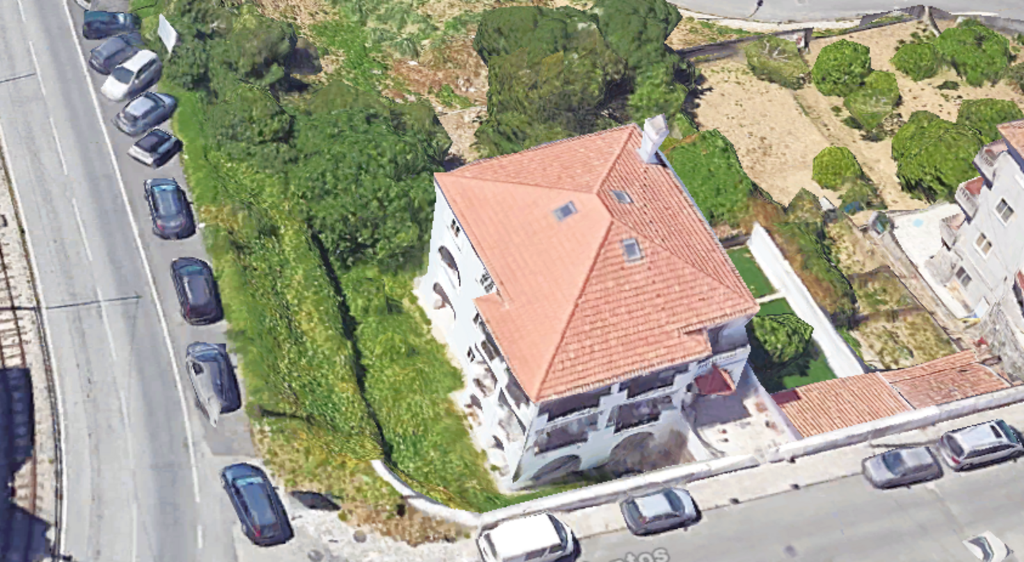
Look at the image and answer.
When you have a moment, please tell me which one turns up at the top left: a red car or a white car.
white car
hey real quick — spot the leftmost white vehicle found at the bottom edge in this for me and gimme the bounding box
[484,516,573,562]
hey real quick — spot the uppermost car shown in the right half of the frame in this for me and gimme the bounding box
[939,422,1023,469]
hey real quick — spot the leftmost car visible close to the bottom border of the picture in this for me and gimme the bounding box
[221,463,291,547]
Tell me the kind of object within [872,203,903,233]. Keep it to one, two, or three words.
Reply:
greenhouse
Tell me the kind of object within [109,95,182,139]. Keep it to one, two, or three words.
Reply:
car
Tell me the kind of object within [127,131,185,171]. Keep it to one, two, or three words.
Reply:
car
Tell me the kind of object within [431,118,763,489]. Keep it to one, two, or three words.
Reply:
house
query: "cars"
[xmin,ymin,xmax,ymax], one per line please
[484,516,573,562]
[77,6,146,44]
[84,36,149,78]
[127,131,185,171]
[221,463,291,547]
[620,490,700,534]
[101,51,163,101]
[174,258,220,325]
[187,340,237,413]
[939,422,1023,469]
[109,95,182,139]
[150,180,192,239]
[861,450,944,489]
